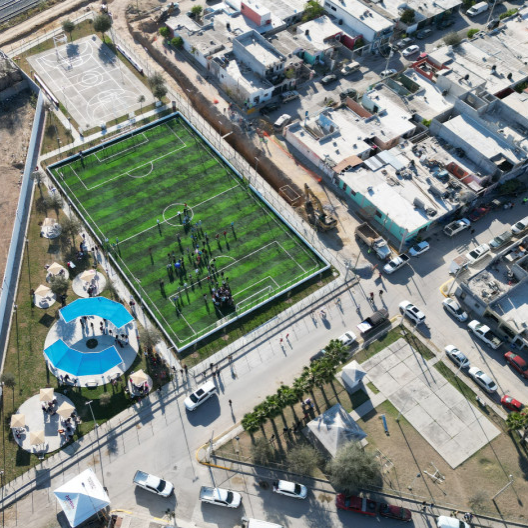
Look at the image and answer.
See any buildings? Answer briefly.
Yes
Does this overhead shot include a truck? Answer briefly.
Yes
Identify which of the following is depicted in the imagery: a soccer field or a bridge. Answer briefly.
soccer field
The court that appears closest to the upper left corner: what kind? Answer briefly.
basketball court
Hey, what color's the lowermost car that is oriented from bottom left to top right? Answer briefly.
white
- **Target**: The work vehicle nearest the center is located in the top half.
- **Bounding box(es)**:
[296,181,335,228]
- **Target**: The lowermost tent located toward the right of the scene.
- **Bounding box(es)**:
[307,403,367,462]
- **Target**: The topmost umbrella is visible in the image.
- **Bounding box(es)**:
[43,217,58,230]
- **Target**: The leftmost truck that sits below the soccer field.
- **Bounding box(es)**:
[132,467,177,499]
